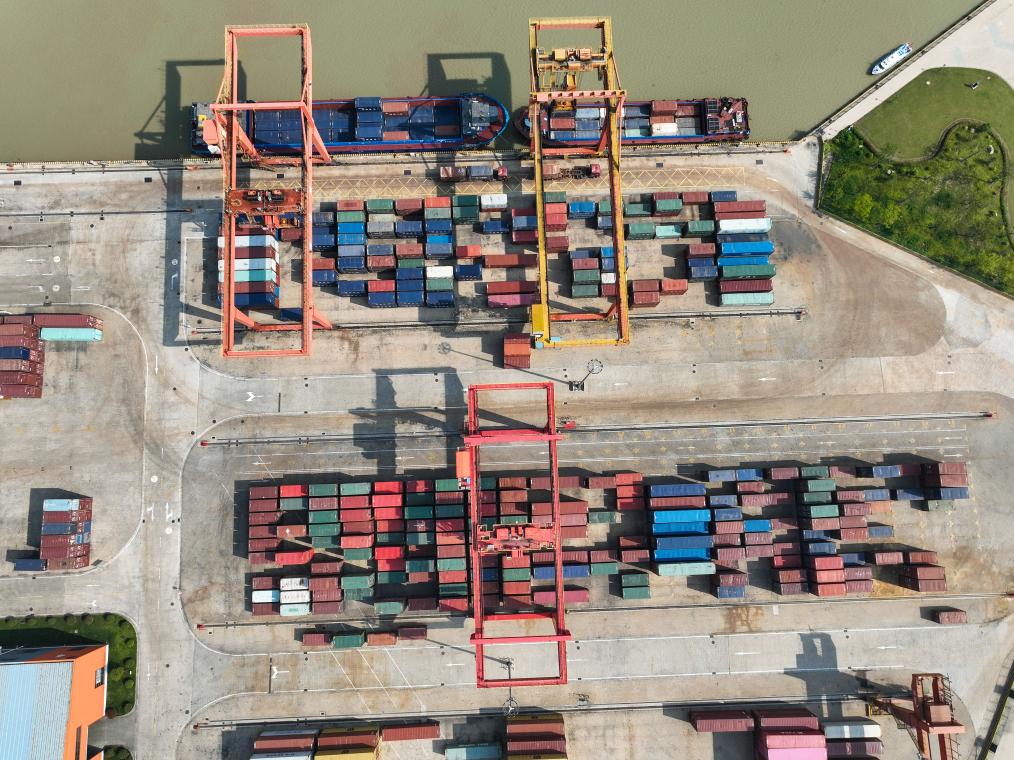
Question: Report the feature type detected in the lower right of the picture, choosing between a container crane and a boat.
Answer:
container crane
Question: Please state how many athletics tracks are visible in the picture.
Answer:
none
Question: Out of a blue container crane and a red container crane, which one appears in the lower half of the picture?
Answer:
red container crane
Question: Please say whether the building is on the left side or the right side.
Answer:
left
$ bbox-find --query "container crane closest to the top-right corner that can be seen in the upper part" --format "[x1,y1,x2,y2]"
[525,15,631,355]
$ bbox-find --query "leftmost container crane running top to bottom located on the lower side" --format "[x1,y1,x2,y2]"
[456,382,571,690]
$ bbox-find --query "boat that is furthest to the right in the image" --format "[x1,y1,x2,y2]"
[872,37,917,72]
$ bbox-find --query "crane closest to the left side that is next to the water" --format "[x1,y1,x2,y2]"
[203,22,337,360]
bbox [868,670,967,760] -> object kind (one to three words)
container crane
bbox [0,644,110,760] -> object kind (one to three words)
building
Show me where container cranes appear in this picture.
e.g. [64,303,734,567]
[203,22,337,360]
[525,15,631,355]
[868,670,967,760]
[456,382,571,690]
